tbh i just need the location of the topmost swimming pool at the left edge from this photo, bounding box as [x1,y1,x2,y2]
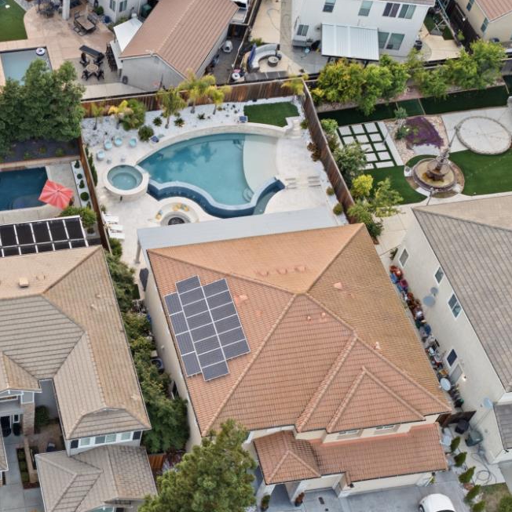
[1,47,51,82]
